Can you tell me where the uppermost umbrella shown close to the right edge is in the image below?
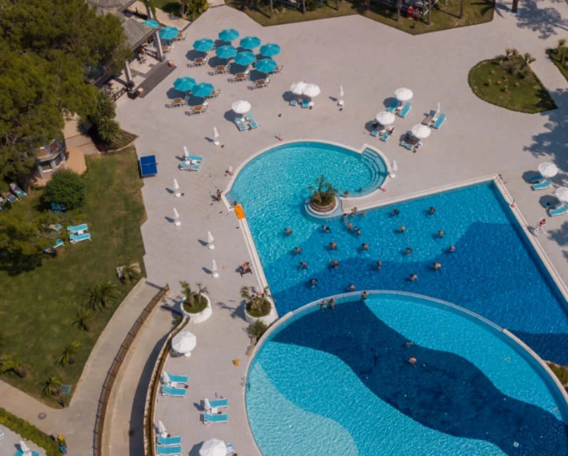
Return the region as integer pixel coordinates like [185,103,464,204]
[537,165,558,181]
